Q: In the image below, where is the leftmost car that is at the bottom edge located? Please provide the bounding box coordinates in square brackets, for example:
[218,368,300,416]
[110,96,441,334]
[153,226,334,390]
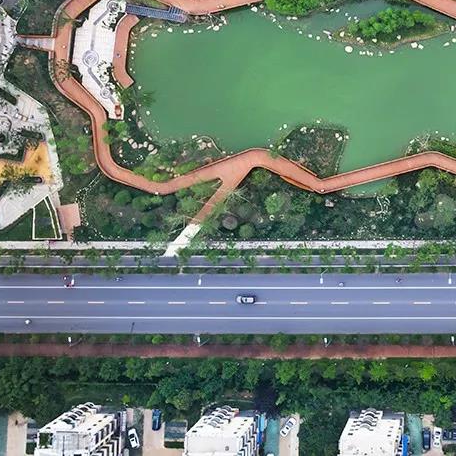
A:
[128,427,142,448]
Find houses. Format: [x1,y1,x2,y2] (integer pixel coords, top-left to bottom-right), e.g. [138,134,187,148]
[184,407,261,456]
[339,409,406,456]
[37,403,122,456]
